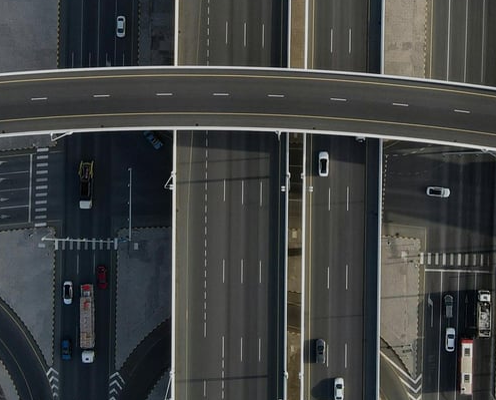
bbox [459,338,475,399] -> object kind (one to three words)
vehicle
